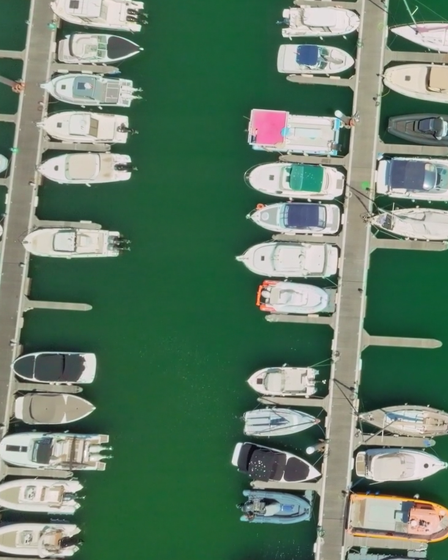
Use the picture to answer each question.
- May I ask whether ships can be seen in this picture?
Yes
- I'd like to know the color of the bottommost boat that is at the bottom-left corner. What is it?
white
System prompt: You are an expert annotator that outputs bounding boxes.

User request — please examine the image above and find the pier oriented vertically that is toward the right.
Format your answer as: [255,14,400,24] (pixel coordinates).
[251,0,448,560]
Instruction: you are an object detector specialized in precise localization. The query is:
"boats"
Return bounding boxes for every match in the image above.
[30,111,144,145]
[228,242,341,278]
[244,363,331,397]
[0,478,95,513]
[10,353,102,386]
[272,0,361,41]
[239,160,347,203]
[391,0,448,54]
[231,489,315,521]
[244,200,343,236]
[34,73,151,109]
[18,229,135,260]
[34,152,144,187]
[61,31,142,65]
[361,200,448,242]
[376,157,448,206]
[380,63,448,103]
[46,0,155,33]
[0,156,9,172]
[277,45,354,77]
[18,393,96,424]
[357,402,448,440]
[243,404,320,436]
[344,490,448,544]
[253,279,330,314]
[0,522,94,555]
[0,429,111,468]
[356,447,448,483]
[387,116,448,147]
[236,448,321,483]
